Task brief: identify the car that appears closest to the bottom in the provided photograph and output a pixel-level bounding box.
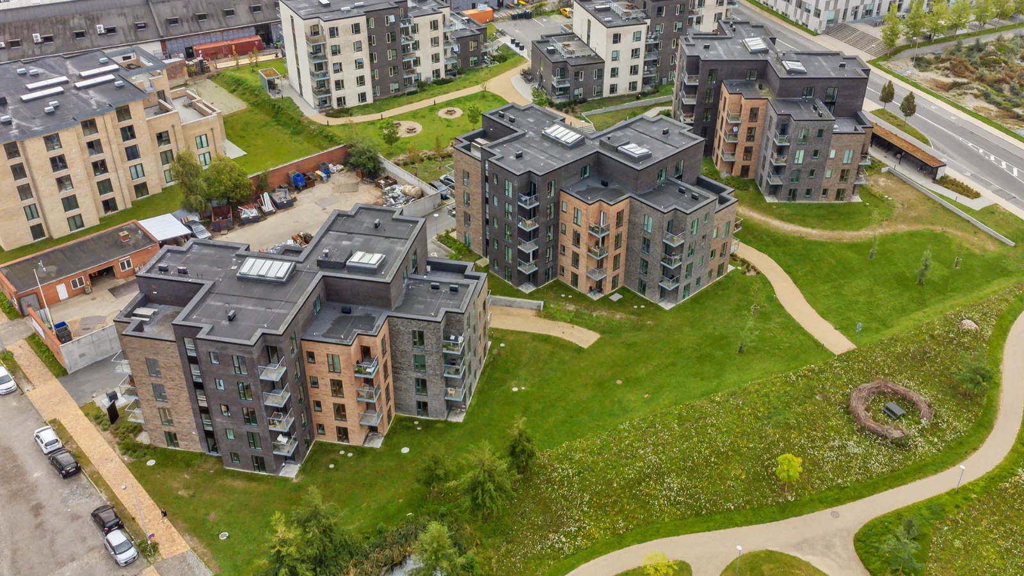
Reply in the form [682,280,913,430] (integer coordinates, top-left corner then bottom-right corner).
[103,526,139,572]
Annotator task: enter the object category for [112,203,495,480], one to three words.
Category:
building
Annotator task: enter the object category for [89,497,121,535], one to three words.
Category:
car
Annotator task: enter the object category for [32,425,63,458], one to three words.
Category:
car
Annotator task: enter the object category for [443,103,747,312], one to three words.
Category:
building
